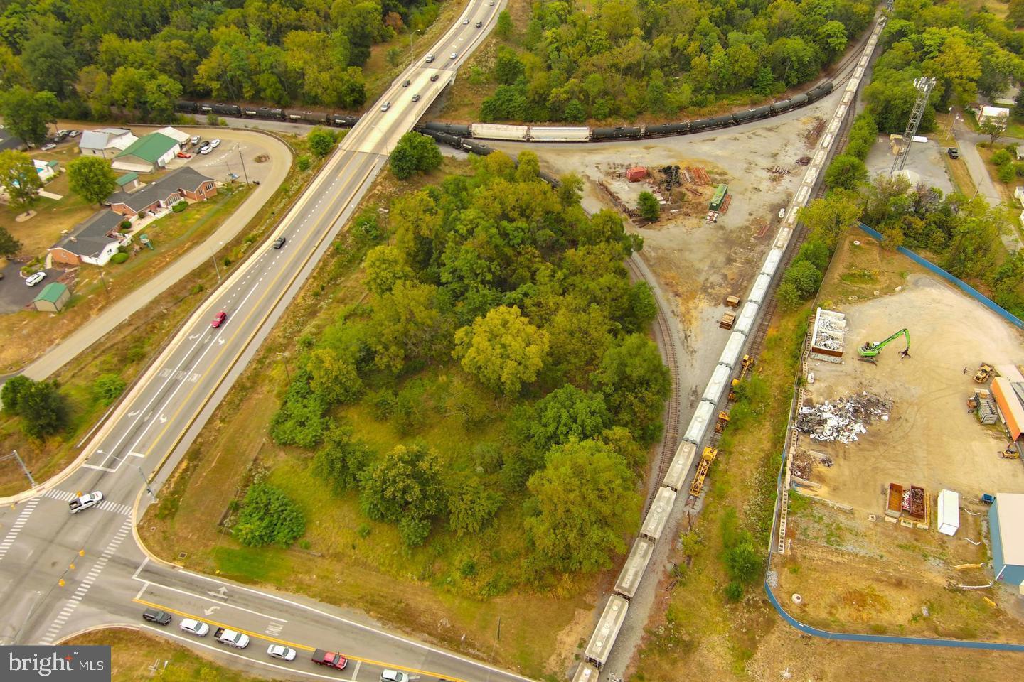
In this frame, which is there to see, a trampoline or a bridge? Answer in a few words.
bridge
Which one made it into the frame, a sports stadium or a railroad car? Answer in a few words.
railroad car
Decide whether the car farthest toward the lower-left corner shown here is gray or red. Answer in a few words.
gray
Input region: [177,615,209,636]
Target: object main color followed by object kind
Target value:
white car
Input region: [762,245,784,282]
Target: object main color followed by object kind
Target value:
white rail car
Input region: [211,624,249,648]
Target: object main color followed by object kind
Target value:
white truck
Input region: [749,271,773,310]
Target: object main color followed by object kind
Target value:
white rail car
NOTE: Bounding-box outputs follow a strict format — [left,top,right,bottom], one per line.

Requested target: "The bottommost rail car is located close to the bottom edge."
[571,658,600,682]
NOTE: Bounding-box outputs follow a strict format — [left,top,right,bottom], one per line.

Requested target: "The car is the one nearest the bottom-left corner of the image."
[139,605,171,625]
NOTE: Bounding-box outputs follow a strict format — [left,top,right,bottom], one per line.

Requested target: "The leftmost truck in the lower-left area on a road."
[66,490,102,512]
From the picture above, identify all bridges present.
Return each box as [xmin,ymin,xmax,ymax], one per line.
[334,63,461,156]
